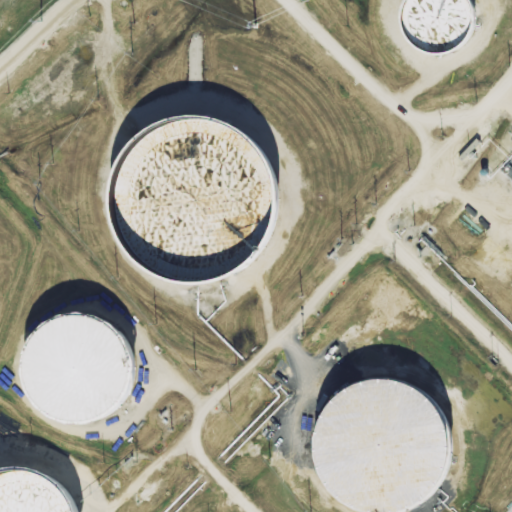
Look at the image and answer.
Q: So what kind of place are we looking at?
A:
industrial area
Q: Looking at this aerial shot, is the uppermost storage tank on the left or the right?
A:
right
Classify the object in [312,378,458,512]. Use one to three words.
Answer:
storage tank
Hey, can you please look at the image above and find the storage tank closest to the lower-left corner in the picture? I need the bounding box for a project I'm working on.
[0,464,84,512]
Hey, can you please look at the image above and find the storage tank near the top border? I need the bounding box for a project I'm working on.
[398,0,483,58]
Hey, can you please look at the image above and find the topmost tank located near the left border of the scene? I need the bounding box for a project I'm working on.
[20,312,136,426]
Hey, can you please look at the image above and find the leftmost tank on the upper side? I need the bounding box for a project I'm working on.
[108,115,282,288]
